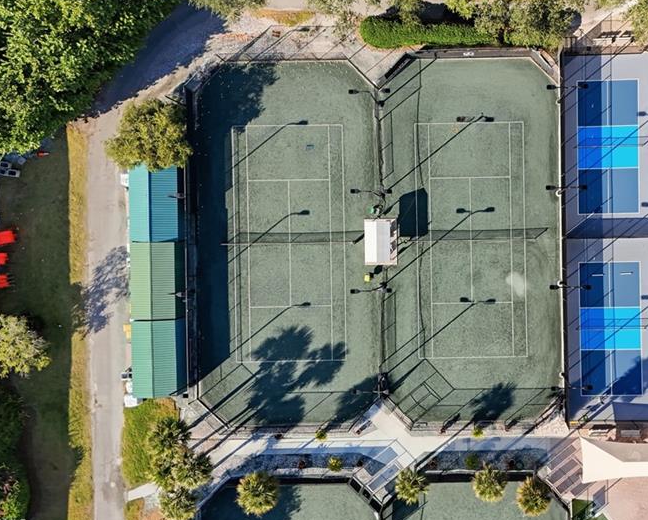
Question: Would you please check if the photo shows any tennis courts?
Yes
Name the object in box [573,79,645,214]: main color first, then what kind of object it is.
blue sports court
